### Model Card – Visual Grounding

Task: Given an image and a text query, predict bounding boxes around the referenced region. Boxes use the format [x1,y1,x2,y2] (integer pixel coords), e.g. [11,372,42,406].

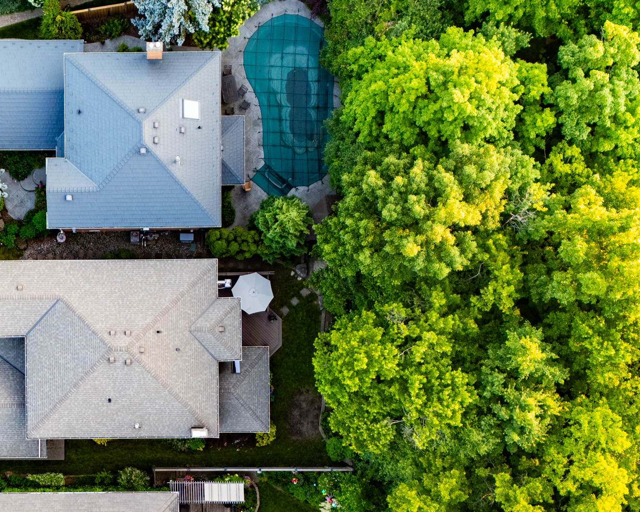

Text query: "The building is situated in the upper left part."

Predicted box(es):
[0,38,247,238]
